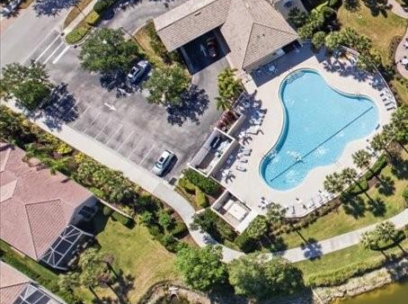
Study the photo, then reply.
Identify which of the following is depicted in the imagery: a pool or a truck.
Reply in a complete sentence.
Of the two, only a pool appears.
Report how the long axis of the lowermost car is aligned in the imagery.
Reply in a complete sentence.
Seen from above, the lowermost car lies at an angle.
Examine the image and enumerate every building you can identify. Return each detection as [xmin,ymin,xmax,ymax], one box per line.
[155,0,304,68]
[0,262,36,304]
[0,134,96,261]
